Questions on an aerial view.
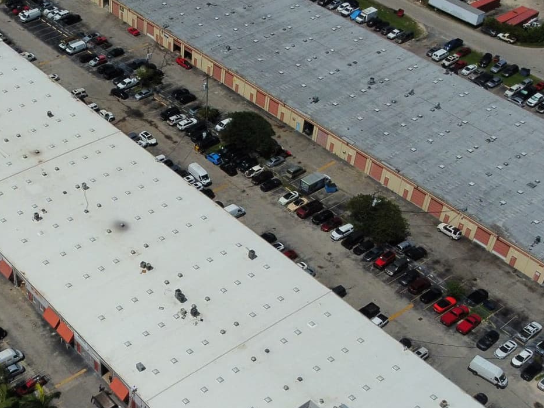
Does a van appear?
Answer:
Yes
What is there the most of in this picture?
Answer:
buildings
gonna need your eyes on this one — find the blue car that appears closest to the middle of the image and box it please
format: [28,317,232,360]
[204,152,225,167]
